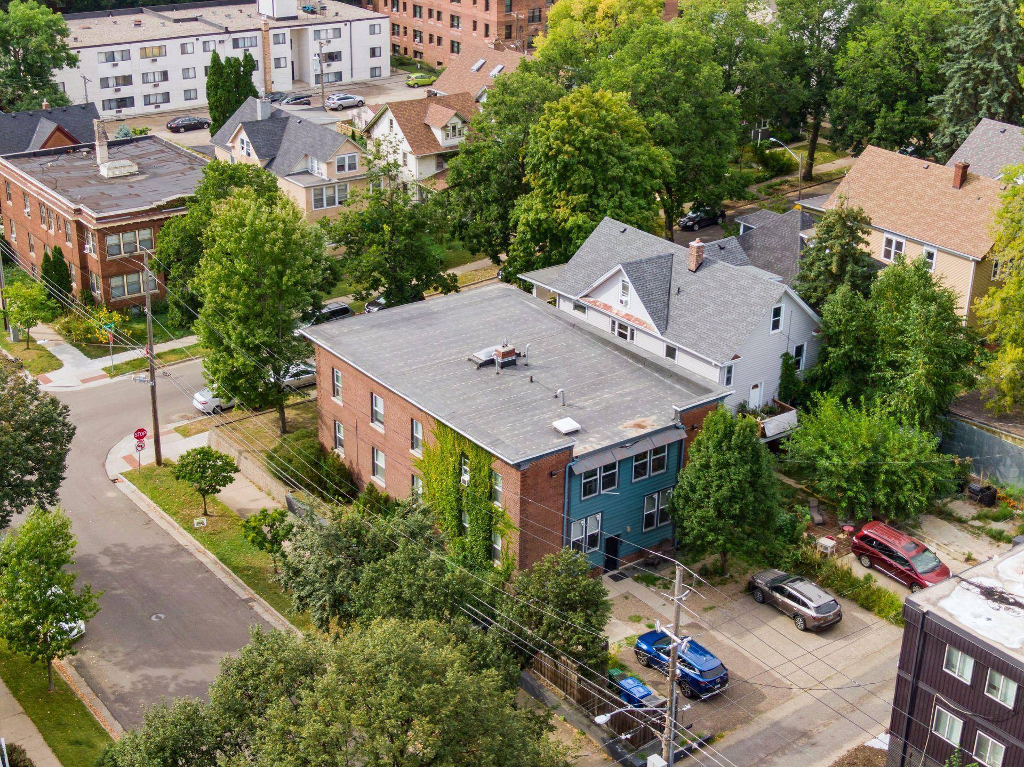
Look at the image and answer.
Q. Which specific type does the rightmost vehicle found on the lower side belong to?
car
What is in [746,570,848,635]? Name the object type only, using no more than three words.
car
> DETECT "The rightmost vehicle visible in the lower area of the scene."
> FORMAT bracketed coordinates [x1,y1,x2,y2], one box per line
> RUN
[852,522,957,593]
